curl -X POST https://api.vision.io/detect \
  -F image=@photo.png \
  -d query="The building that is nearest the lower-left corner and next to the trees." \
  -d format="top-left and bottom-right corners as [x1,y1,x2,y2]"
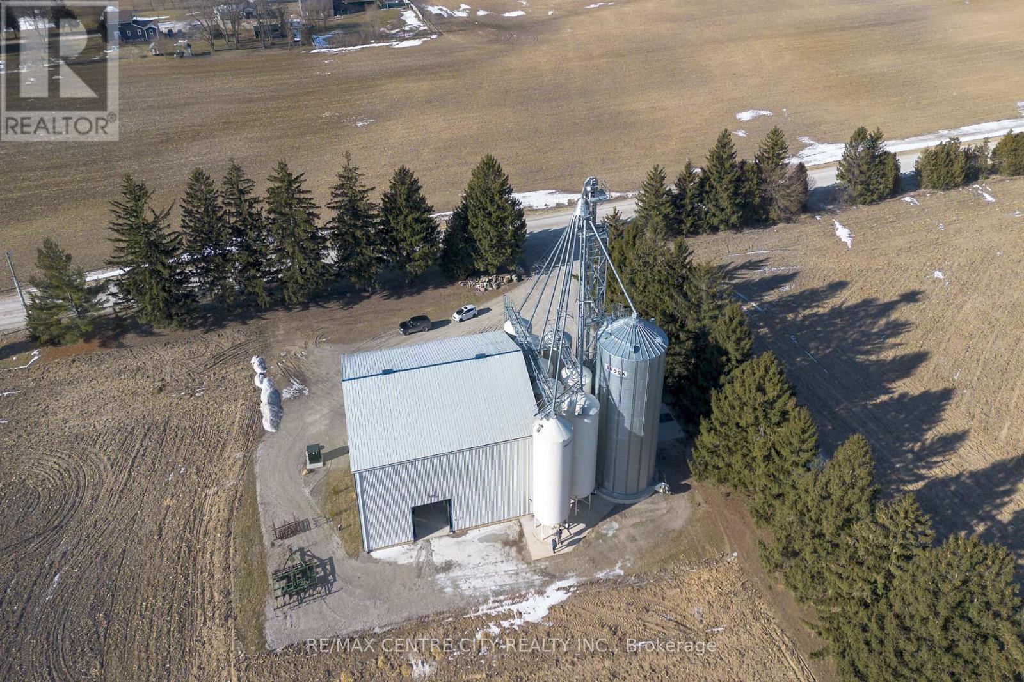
[340,329,546,550]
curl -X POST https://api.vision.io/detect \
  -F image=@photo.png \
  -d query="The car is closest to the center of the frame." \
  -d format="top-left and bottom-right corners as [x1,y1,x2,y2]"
[452,304,479,321]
